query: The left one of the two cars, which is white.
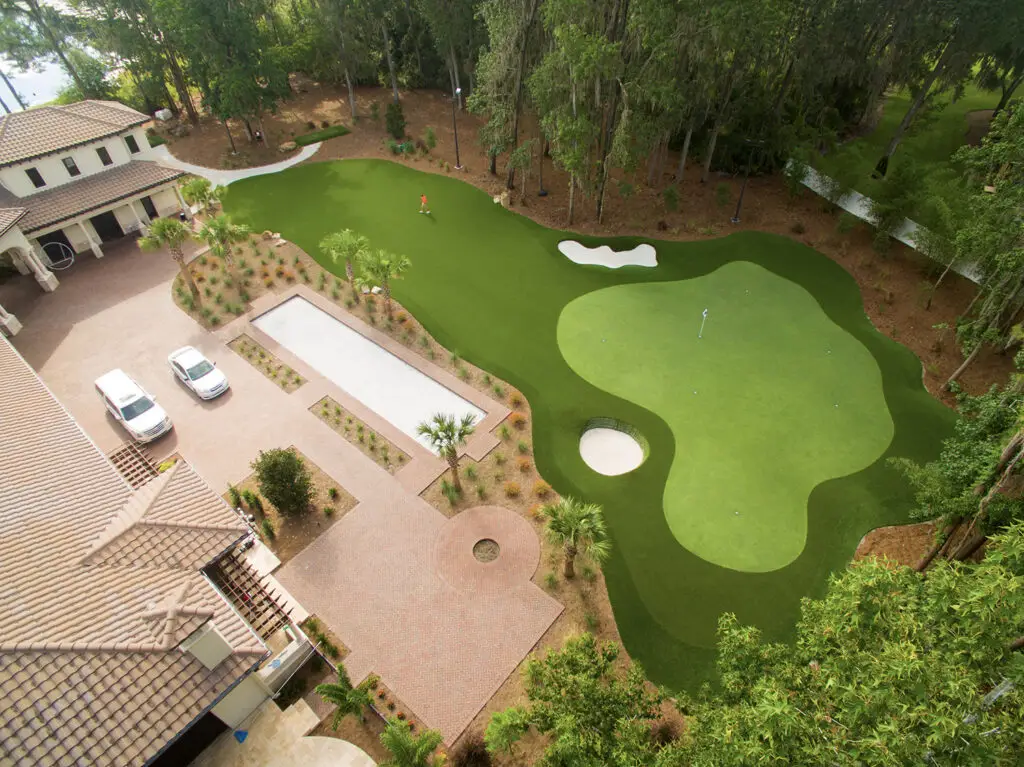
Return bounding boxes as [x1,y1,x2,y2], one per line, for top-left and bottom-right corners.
[95,370,173,444]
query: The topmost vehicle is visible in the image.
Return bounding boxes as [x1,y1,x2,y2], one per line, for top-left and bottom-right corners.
[167,344,229,401]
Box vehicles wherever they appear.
[95,370,173,444]
[167,344,229,401]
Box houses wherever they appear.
[0,97,197,283]
[0,333,279,767]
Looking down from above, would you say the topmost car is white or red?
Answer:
white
